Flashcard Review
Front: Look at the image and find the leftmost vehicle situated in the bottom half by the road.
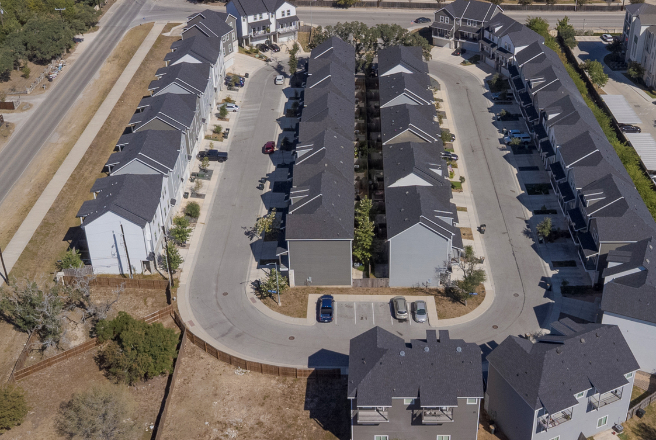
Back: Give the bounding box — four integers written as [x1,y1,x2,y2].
[318,294,334,322]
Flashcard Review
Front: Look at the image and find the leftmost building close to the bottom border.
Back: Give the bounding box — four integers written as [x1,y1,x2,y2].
[344,324,482,440]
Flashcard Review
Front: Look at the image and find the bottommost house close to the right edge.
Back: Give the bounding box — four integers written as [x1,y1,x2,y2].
[480,317,641,440]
